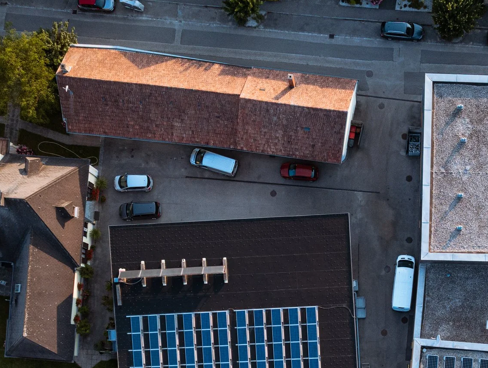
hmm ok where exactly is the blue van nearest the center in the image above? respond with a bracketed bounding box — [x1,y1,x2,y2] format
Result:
[189,148,240,177]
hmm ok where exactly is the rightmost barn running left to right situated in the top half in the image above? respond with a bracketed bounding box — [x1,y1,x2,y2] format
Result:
[55,42,357,166]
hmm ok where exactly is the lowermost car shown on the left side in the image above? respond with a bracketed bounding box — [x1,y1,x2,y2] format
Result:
[119,199,162,221]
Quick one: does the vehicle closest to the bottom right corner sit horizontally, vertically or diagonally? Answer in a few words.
vertically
